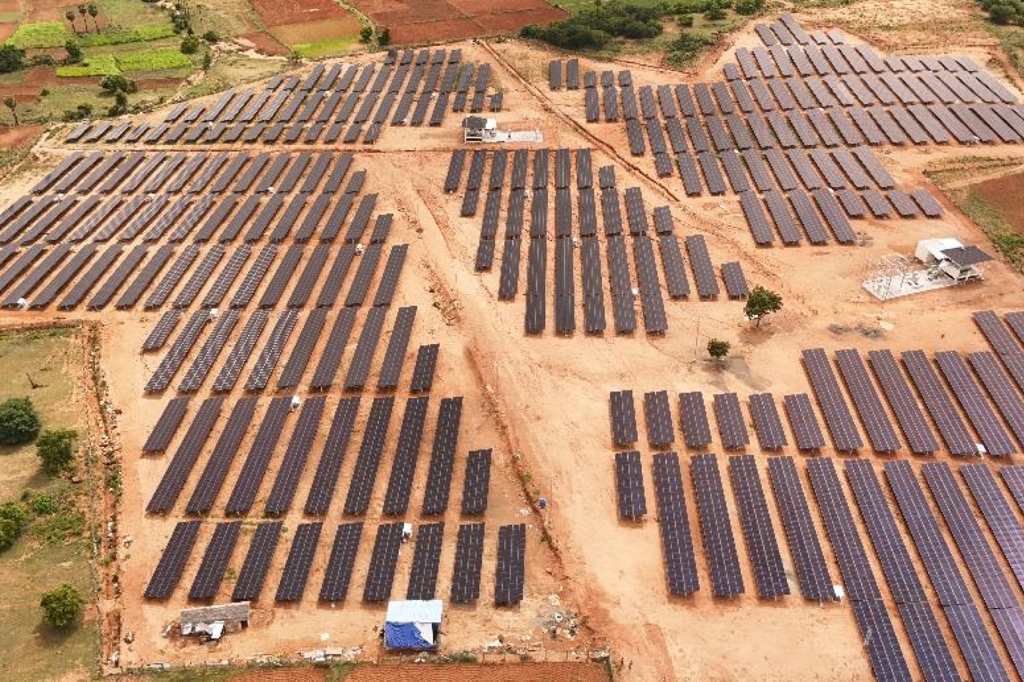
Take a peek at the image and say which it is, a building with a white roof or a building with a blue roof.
building with a white roof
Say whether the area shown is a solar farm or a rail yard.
solar farm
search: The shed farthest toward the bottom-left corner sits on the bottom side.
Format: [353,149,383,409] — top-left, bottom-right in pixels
[176,601,251,633]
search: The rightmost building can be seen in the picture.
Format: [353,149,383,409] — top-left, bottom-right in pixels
[916,234,968,268]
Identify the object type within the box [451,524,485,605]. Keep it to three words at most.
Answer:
solar array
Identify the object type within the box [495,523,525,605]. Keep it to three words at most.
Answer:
solar array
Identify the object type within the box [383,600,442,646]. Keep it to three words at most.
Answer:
shed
